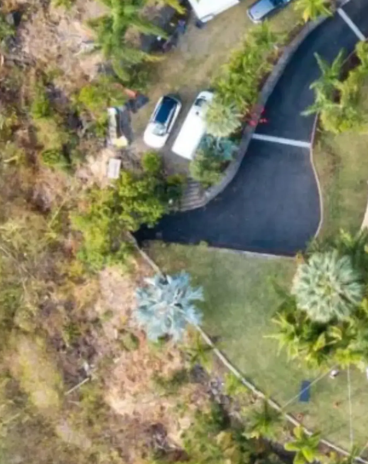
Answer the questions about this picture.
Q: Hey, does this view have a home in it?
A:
No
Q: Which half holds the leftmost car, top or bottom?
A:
top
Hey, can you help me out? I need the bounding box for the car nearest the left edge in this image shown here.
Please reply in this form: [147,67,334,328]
[145,91,185,151]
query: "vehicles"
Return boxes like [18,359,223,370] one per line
[242,0,295,27]
[169,88,222,163]
[184,0,253,25]
[145,91,185,151]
